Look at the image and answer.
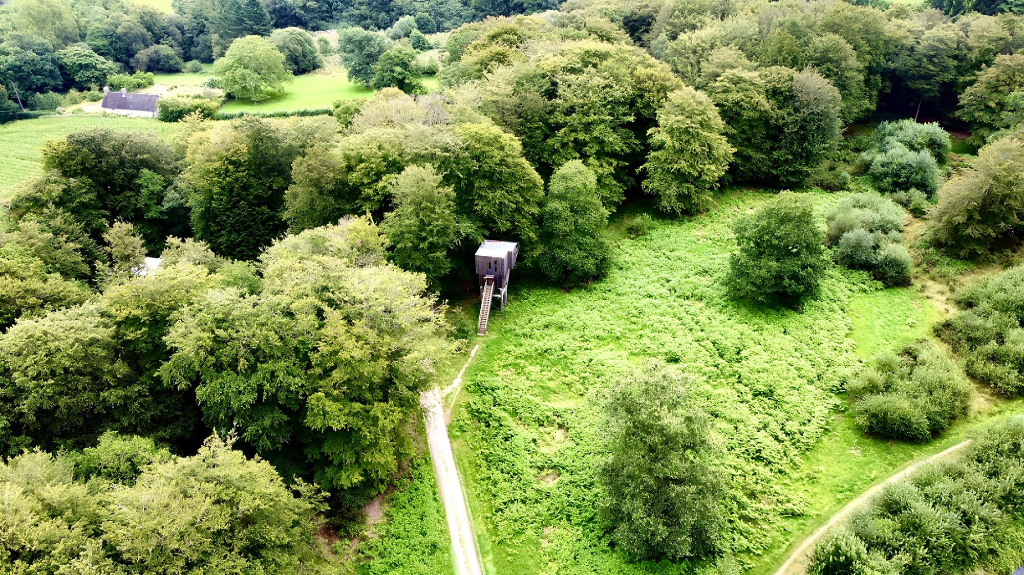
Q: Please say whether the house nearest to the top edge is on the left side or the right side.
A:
left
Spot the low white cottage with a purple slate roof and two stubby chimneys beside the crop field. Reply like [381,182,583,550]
[100,88,159,121]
